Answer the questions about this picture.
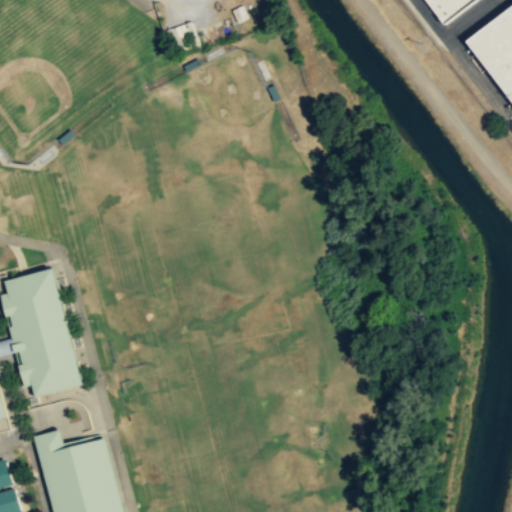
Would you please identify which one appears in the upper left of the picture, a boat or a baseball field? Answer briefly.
baseball field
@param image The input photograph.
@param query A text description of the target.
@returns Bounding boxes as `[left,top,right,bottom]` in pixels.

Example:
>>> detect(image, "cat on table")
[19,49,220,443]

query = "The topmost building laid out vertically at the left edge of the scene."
[0,269,80,397]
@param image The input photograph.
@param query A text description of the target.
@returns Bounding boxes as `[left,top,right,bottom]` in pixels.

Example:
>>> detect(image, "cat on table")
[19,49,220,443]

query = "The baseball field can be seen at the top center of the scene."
[150,49,292,162]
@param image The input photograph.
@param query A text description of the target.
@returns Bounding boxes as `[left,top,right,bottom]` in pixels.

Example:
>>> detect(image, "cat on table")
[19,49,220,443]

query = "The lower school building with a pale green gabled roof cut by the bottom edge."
[34,431,124,512]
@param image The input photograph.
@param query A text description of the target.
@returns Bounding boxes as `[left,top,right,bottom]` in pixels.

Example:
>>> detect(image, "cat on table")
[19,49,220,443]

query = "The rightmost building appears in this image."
[466,6,512,102]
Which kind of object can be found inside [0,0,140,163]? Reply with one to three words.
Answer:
baseball field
